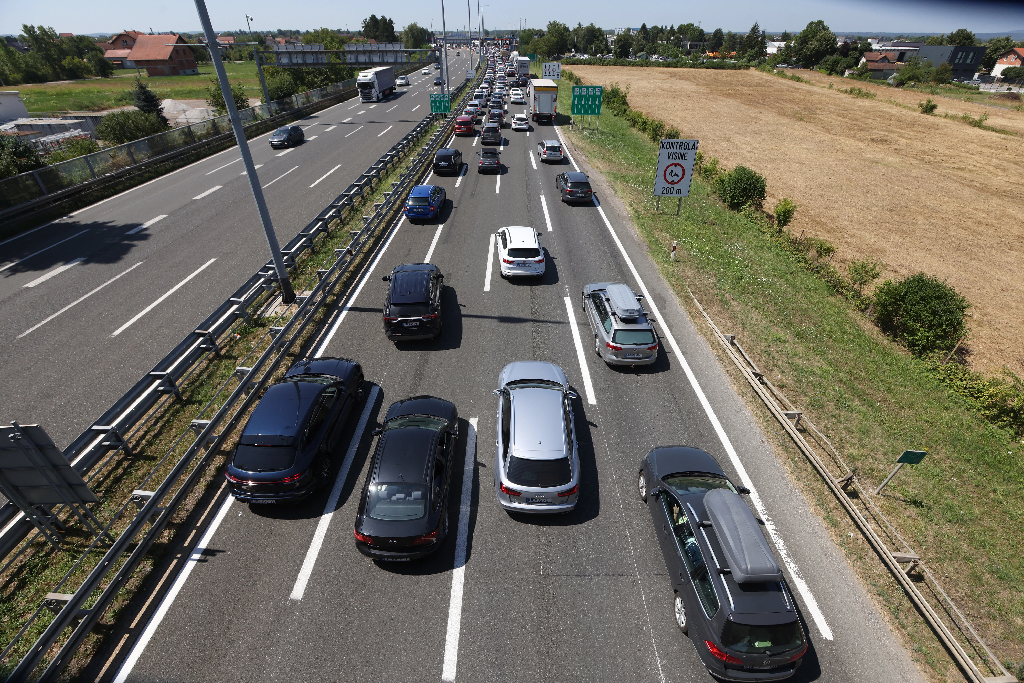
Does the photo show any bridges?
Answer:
No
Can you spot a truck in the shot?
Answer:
Yes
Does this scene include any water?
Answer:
No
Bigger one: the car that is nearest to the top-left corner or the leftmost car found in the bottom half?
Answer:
the leftmost car found in the bottom half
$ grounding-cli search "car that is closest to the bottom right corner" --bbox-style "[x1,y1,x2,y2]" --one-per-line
[632,446,817,683]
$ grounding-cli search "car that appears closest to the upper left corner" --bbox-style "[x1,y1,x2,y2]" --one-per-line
[275,124,311,148]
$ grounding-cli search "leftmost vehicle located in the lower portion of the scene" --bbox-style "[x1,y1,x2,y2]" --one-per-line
[219,360,366,506]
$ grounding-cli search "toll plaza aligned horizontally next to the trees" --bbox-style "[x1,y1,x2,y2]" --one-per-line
[432,33,521,47]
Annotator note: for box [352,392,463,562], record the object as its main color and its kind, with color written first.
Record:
black car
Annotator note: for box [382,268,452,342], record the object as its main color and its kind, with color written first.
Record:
black car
